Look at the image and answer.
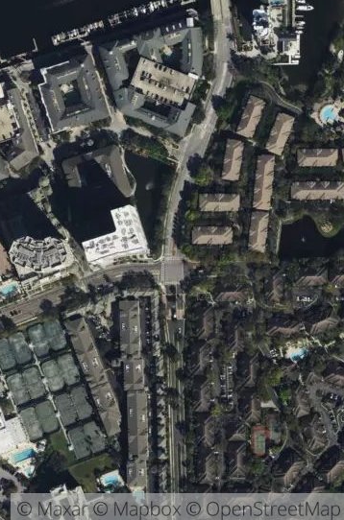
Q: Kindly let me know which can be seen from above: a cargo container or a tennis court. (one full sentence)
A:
There is a tennis court in the scene.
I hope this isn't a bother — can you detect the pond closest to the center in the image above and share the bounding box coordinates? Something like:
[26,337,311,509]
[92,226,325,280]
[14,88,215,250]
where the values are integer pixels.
[61,151,168,251]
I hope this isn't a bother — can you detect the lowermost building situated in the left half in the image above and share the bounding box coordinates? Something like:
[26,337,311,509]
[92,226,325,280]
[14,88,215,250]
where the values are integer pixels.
[53,486,87,520]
